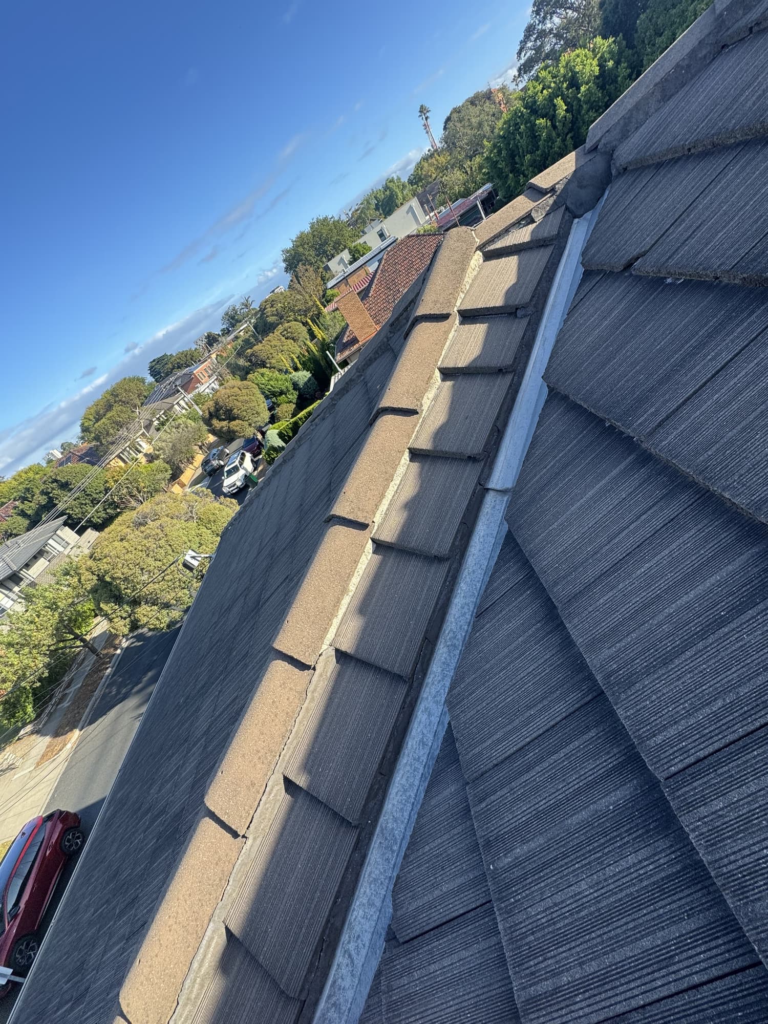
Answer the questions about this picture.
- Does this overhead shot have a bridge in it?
No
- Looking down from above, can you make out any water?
No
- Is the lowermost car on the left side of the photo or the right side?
left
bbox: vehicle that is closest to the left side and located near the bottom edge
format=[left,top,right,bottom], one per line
[0,806,85,975]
